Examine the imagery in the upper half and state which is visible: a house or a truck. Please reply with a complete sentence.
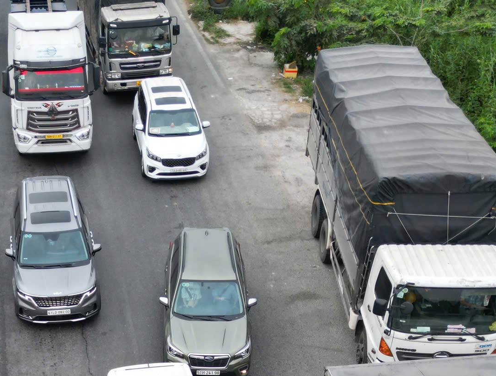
It is a truck that can be seen in the upper half.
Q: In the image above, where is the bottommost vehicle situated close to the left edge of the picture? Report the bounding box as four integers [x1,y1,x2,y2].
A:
[6,174,101,321]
